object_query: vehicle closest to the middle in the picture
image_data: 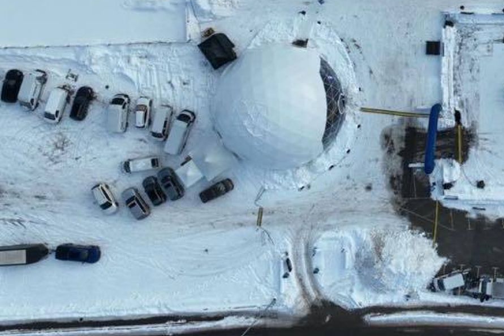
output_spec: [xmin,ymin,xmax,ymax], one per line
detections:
[198,177,237,202]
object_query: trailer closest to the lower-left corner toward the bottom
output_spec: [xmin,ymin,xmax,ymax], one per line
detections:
[0,243,54,268]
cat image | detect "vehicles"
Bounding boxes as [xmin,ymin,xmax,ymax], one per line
[45,84,75,124]
[0,68,28,104]
[16,69,49,109]
[125,154,162,174]
[151,104,176,140]
[106,93,134,134]
[198,177,237,202]
[91,180,122,215]
[160,106,199,157]
[158,164,188,201]
[53,241,103,265]
[135,96,155,128]
[123,184,154,220]
[70,85,99,122]
[434,267,470,291]
[140,173,170,207]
